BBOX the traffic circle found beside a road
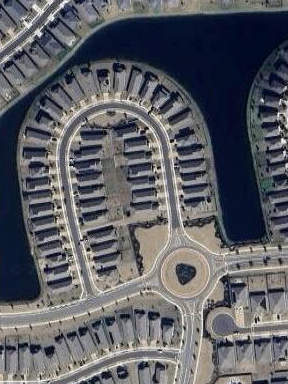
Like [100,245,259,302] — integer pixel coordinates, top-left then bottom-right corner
[154,240,216,305]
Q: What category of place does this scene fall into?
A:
residential area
